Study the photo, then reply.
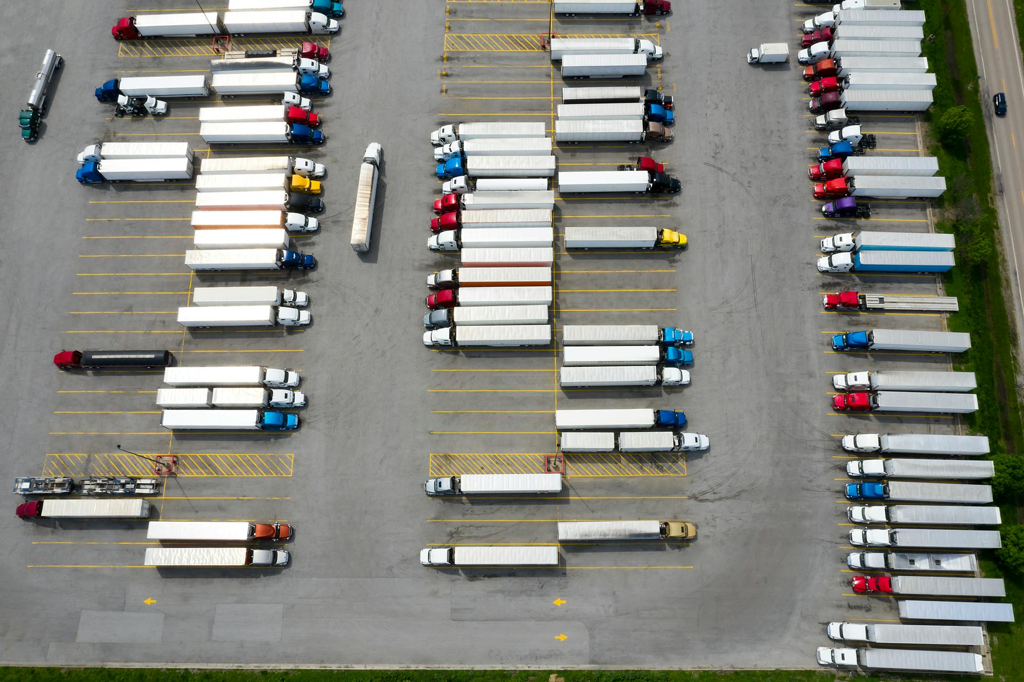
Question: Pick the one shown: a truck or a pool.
truck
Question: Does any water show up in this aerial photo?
No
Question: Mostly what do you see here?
paved ground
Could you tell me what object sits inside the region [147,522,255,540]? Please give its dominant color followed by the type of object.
white trailer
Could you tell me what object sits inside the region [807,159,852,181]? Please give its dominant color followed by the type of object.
red truck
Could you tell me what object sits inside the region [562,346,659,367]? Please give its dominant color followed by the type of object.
white trailer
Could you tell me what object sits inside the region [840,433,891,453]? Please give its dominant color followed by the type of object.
white vehicle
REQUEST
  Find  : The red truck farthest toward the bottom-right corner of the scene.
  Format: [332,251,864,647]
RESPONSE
[850,574,895,595]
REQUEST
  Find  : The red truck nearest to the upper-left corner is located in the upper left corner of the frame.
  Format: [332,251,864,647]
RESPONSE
[112,17,155,41]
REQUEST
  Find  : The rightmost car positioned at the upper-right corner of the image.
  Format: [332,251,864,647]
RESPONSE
[995,92,1010,114]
